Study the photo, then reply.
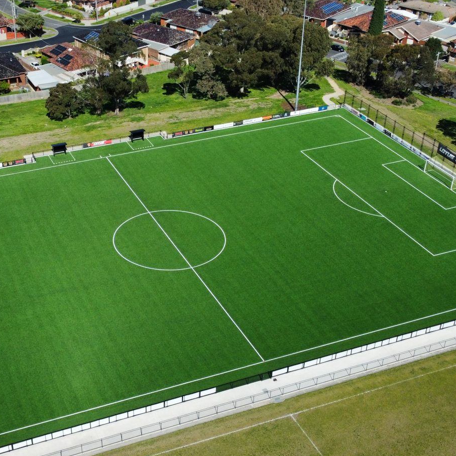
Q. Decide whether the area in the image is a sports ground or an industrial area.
sports ground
